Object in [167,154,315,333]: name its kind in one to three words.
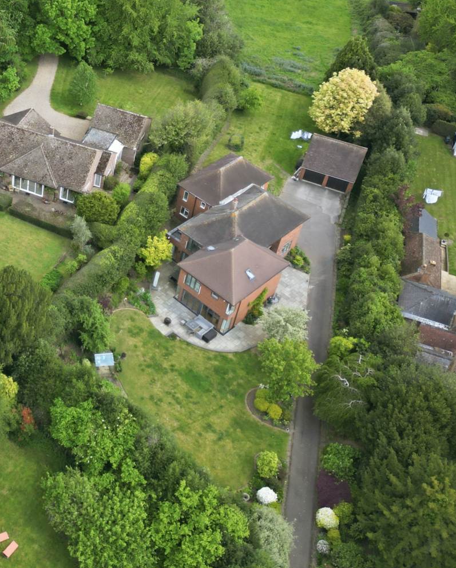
house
